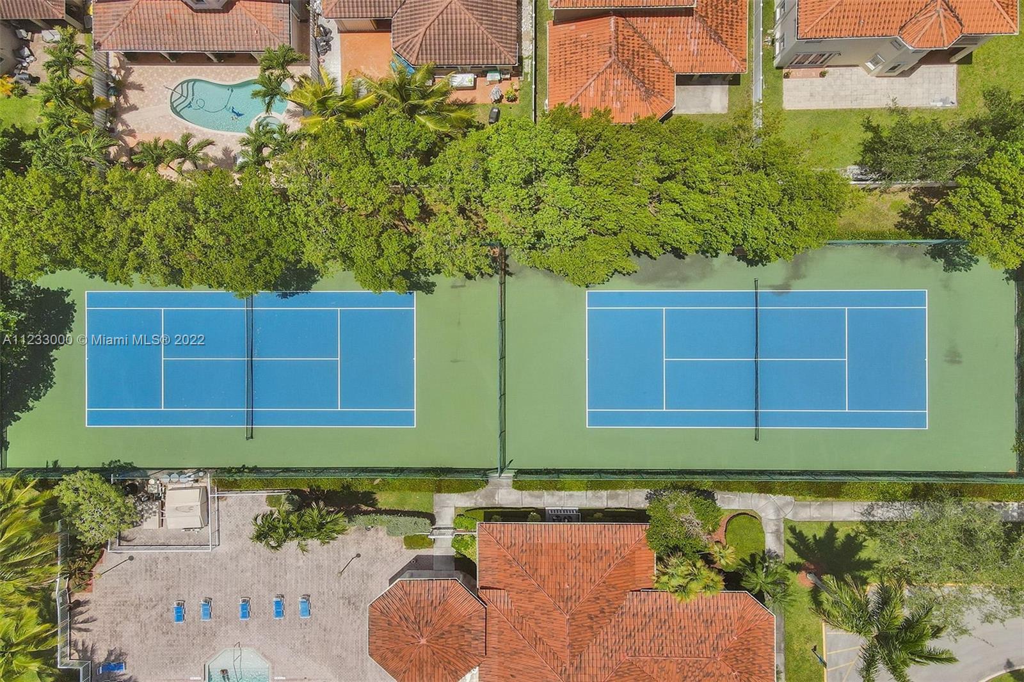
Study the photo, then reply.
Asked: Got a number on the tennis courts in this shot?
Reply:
2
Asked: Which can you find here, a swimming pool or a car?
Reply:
swimming pool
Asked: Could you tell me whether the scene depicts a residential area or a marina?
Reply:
residential area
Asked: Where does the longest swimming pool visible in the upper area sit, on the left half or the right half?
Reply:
left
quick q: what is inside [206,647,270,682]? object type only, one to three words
swimming pool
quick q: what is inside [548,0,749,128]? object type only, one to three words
house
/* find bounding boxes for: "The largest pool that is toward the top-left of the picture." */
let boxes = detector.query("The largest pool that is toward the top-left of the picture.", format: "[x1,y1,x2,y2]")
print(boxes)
[167,74,293,136]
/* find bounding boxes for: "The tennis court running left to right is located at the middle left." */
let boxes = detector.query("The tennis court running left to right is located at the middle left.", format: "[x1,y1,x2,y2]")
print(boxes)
[6,246,501,471]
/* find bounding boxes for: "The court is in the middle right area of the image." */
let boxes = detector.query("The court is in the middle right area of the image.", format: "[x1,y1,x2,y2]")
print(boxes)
[502,243,1017,474]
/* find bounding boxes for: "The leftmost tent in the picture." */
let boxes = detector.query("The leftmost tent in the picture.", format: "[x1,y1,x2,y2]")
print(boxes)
[156,488,206,531]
